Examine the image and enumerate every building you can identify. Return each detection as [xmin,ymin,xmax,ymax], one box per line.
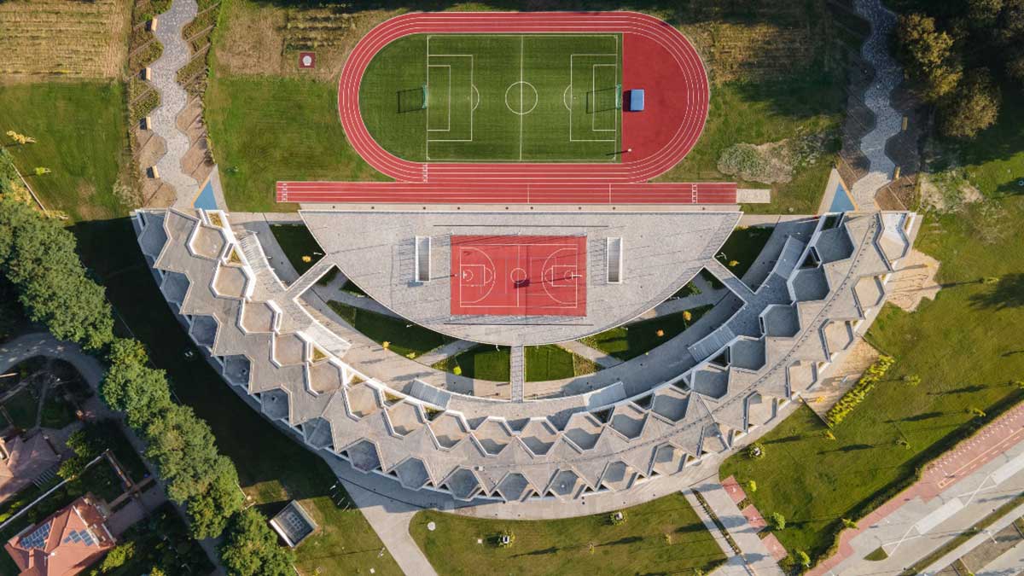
[270,496,321,547]
[136,208,913,501]
[300,210,742,346]
[2,485,132,576]
[0,426,67,500]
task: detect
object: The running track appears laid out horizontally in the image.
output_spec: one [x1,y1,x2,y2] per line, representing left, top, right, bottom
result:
[277,12,737,204]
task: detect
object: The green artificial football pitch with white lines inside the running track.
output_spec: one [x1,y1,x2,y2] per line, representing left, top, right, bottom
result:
[359,33,622,162]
